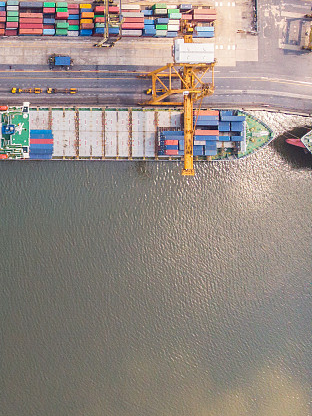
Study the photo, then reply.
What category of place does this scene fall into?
port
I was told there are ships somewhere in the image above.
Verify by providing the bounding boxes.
[286,126,312,153]
[0,102,274,163]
